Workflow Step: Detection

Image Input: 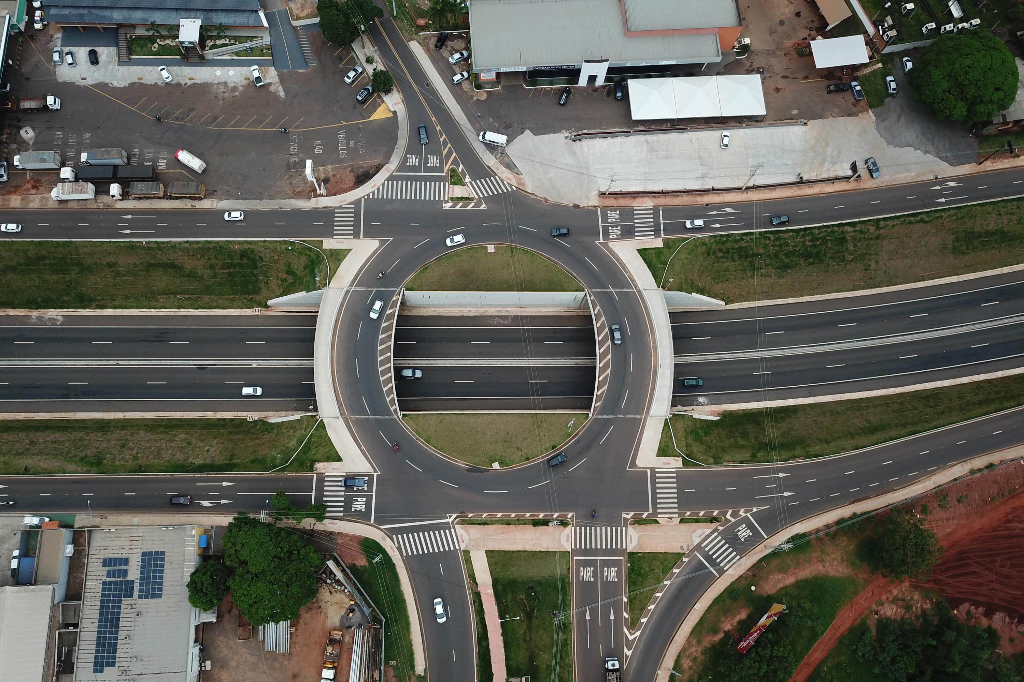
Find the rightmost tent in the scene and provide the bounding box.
[716,74,766,121]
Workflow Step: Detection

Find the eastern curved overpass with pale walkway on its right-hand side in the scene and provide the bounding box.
[585,285,675,417]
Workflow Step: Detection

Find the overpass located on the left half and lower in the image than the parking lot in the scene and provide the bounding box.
[312,287,404,417]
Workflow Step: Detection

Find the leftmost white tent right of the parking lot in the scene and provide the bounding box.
[625,77,677,126]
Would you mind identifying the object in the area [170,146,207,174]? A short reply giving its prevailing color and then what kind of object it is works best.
white vehicle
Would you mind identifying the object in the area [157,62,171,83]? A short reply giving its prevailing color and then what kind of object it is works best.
white car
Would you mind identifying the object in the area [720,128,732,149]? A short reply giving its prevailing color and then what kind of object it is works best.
white vehicle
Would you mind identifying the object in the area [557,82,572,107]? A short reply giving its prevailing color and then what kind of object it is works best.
black vehicle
